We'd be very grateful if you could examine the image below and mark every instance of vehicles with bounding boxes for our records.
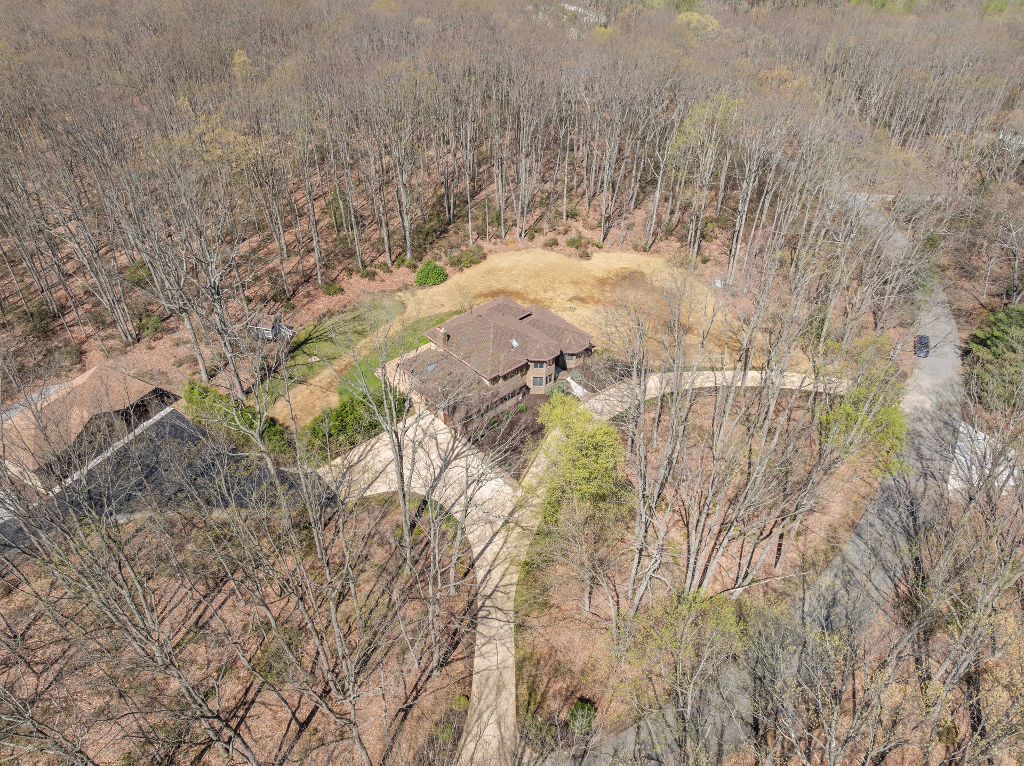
[915,331,934,357]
